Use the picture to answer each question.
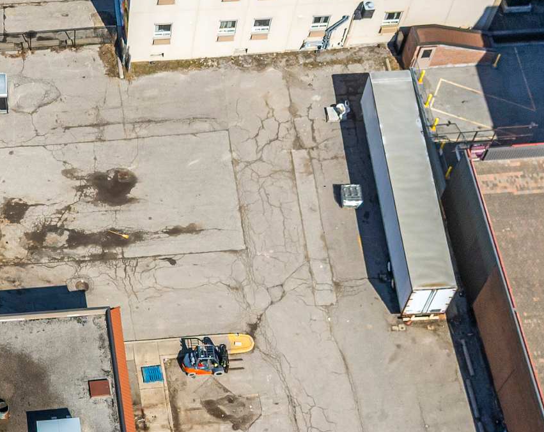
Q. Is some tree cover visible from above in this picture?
No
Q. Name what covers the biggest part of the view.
paved ground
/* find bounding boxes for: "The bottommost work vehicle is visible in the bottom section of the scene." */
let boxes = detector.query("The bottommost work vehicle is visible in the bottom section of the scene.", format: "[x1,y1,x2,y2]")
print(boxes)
[188,340,253,378]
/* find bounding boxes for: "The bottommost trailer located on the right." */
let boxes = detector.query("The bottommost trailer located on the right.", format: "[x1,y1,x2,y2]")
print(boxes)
[361,71,458,320]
